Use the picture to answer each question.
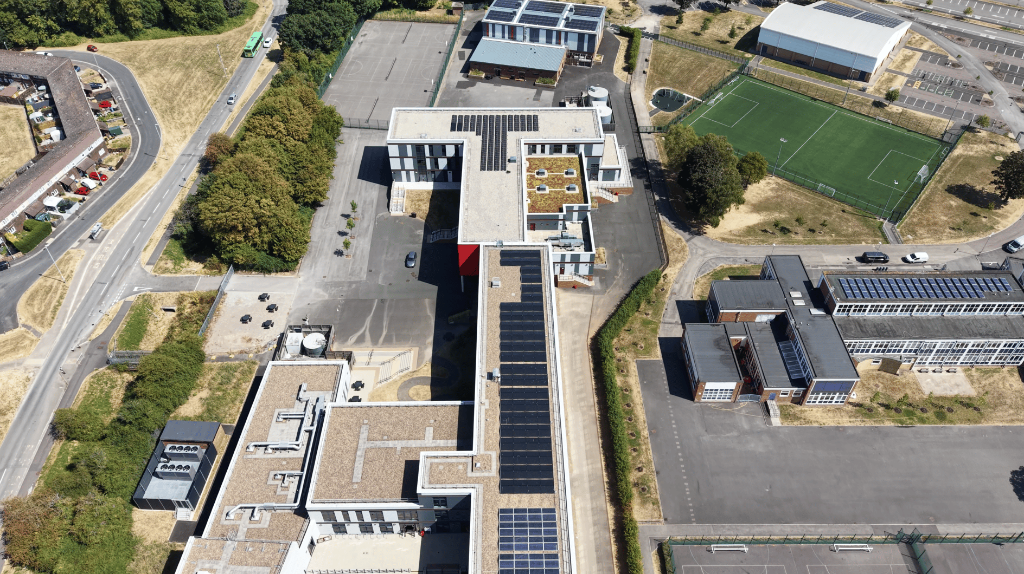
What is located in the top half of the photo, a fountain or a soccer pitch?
soccer pitch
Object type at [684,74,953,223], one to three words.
soccer field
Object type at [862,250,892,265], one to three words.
vehicle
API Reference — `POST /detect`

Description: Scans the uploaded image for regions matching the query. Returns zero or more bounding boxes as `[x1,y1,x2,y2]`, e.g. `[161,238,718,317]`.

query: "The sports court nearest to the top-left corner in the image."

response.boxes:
[327,20,459,127]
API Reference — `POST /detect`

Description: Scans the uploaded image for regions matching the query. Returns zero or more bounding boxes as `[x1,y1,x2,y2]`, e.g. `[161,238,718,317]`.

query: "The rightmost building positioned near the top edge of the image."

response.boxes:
[758,0,913,81]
